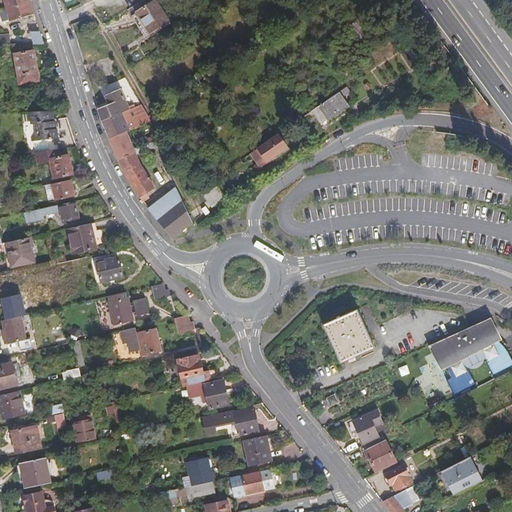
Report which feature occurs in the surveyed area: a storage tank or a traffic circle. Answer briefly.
traffic circle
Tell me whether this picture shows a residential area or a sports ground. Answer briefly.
residential area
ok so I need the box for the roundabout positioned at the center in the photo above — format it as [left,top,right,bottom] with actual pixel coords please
[201,234,289,322]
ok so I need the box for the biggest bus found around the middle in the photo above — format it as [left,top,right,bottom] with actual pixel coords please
[254,240,284,262]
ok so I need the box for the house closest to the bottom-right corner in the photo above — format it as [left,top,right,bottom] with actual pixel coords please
[442,458,484,497]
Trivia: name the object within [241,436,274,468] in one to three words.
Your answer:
house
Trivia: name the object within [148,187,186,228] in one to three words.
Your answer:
building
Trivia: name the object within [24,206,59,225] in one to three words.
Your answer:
shed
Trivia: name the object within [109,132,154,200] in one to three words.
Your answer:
house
